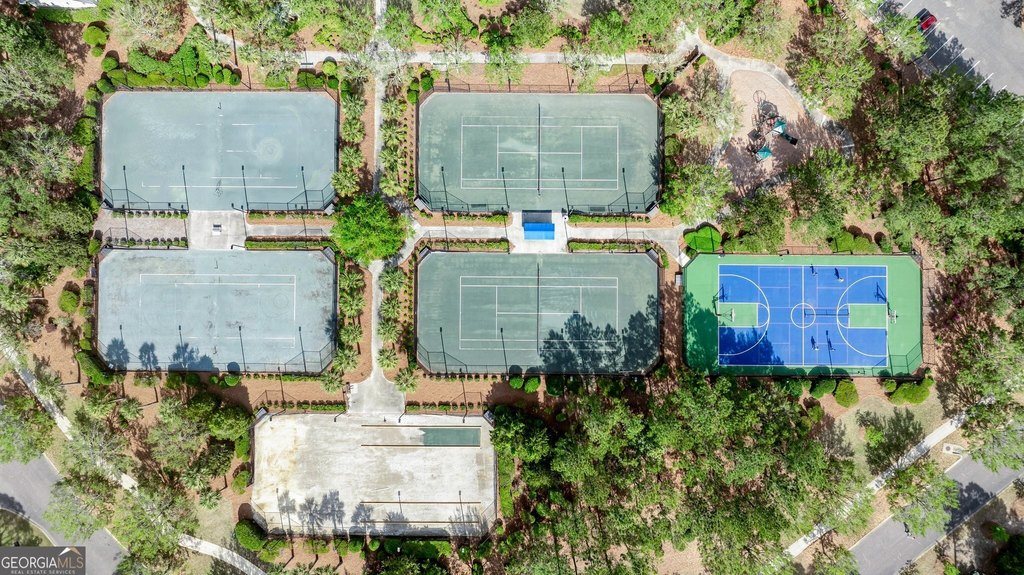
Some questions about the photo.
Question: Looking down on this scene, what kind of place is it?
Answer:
sports ground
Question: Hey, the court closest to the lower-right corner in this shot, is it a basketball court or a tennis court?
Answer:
basketball court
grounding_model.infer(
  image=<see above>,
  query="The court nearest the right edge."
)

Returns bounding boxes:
[683,253,923,377]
